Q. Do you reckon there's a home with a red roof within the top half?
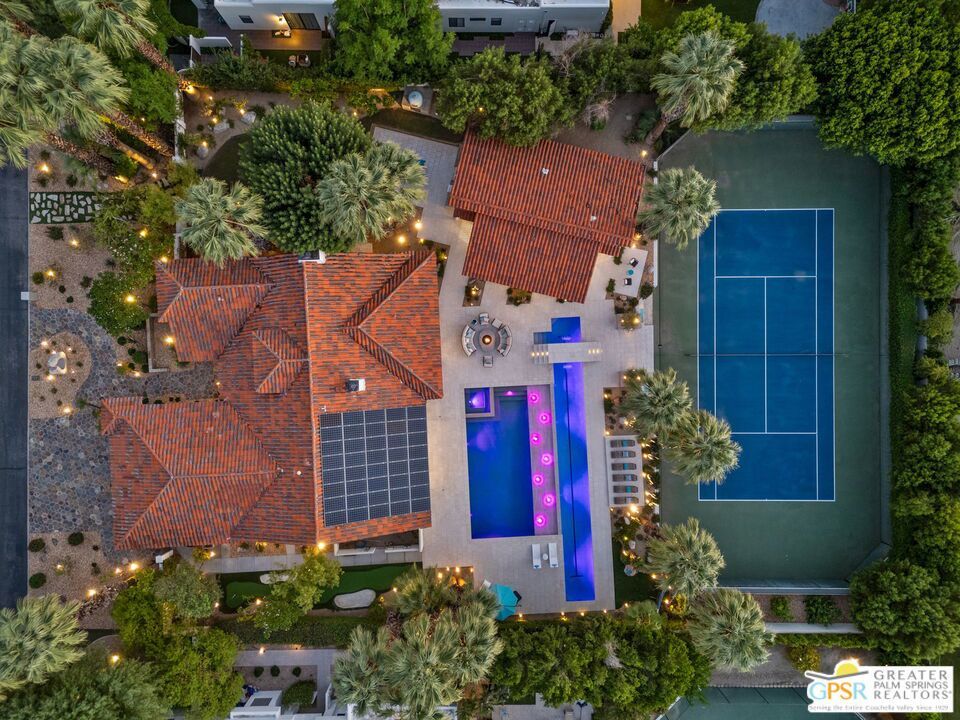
Yes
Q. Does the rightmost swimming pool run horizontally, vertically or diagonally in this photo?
vertically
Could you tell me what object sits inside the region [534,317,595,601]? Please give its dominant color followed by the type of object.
blue swimming pool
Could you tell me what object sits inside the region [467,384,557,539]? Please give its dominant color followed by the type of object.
blue swimming pool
